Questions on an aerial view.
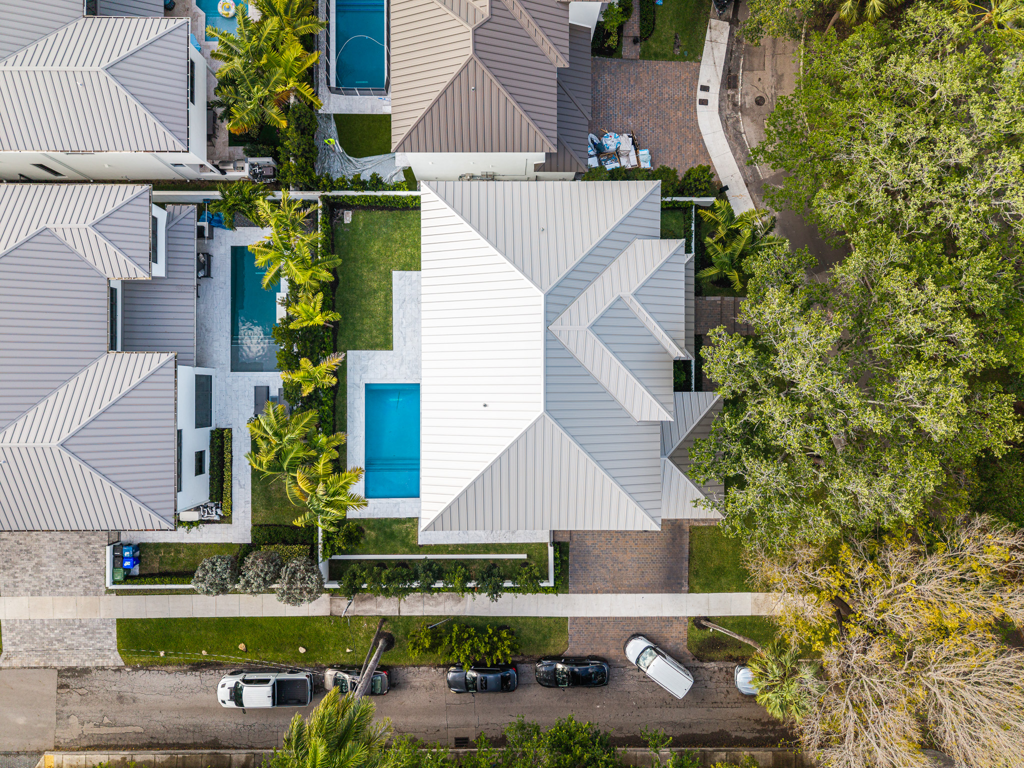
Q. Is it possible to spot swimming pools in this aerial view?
Yes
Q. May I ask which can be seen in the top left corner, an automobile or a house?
house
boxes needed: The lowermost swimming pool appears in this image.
[361,380,421,501]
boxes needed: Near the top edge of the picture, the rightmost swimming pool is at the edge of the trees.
[334,0,386,88]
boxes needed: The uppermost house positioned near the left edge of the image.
[0,0,225,181]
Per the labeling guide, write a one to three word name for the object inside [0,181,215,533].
house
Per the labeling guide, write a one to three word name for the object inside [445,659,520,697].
car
